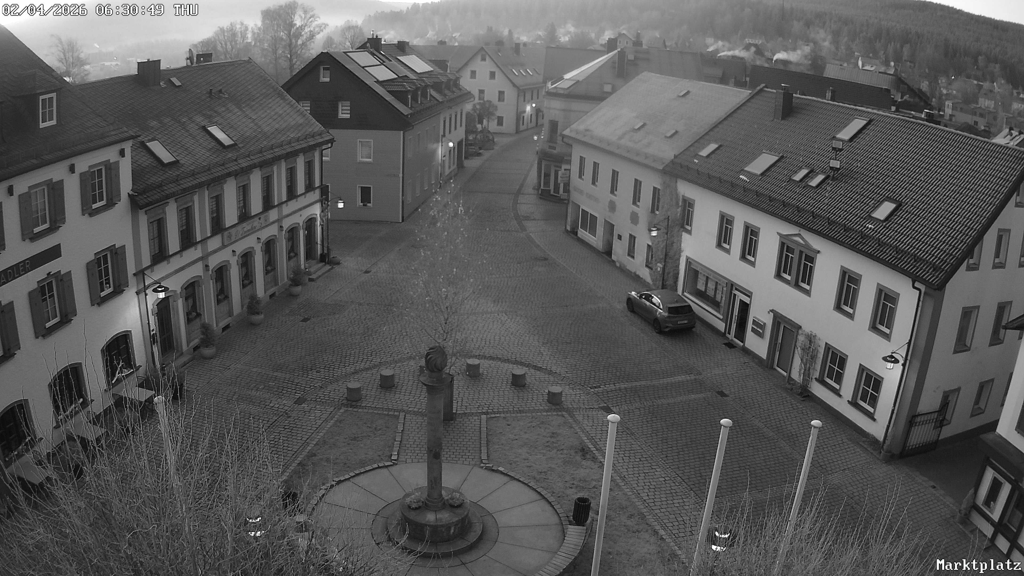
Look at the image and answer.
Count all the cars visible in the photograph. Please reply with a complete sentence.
Only 1 car is visible.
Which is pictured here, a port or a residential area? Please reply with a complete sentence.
The picture captures a residential area.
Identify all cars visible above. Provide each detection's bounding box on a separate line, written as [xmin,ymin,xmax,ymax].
[626,290,695,333]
